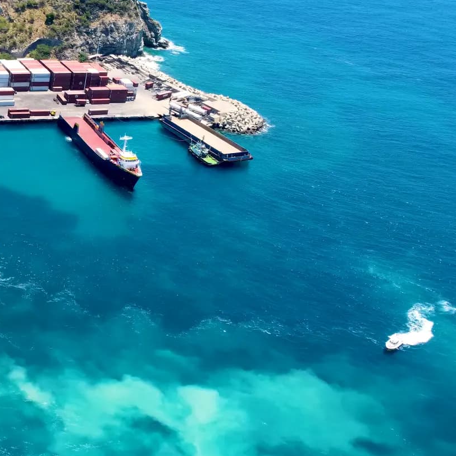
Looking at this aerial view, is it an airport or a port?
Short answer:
port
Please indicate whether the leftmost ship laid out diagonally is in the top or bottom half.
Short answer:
top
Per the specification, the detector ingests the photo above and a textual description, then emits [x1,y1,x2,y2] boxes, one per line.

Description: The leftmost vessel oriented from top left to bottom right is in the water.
[59,110,147,187]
